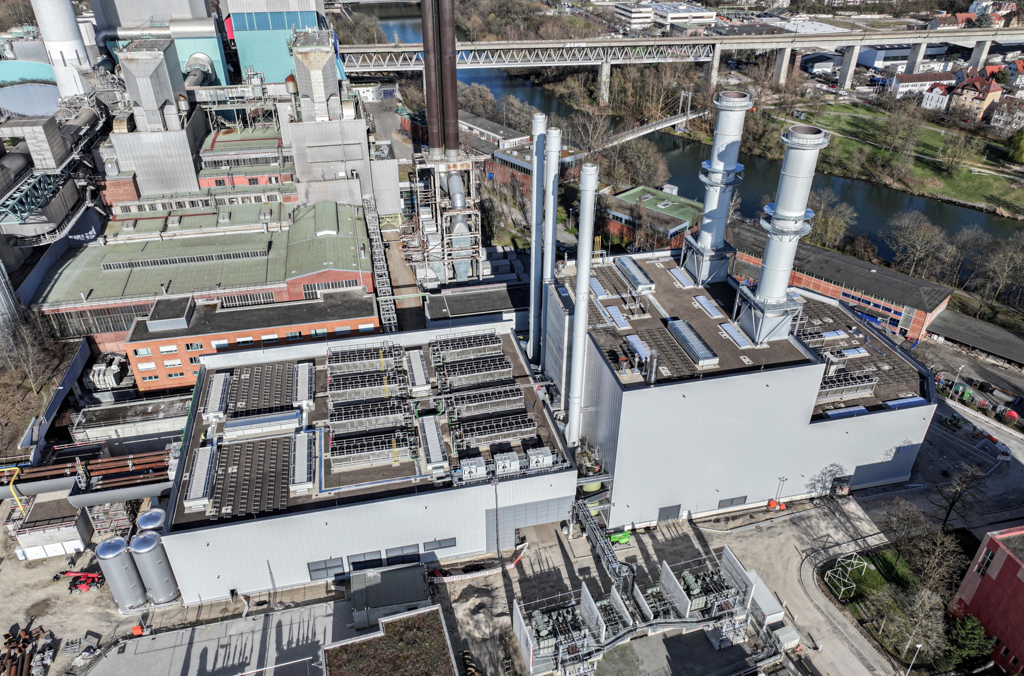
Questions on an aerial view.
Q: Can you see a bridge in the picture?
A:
Yes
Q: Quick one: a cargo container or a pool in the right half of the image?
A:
cargo container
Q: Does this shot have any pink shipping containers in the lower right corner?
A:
No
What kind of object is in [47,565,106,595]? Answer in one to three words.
work vehicle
